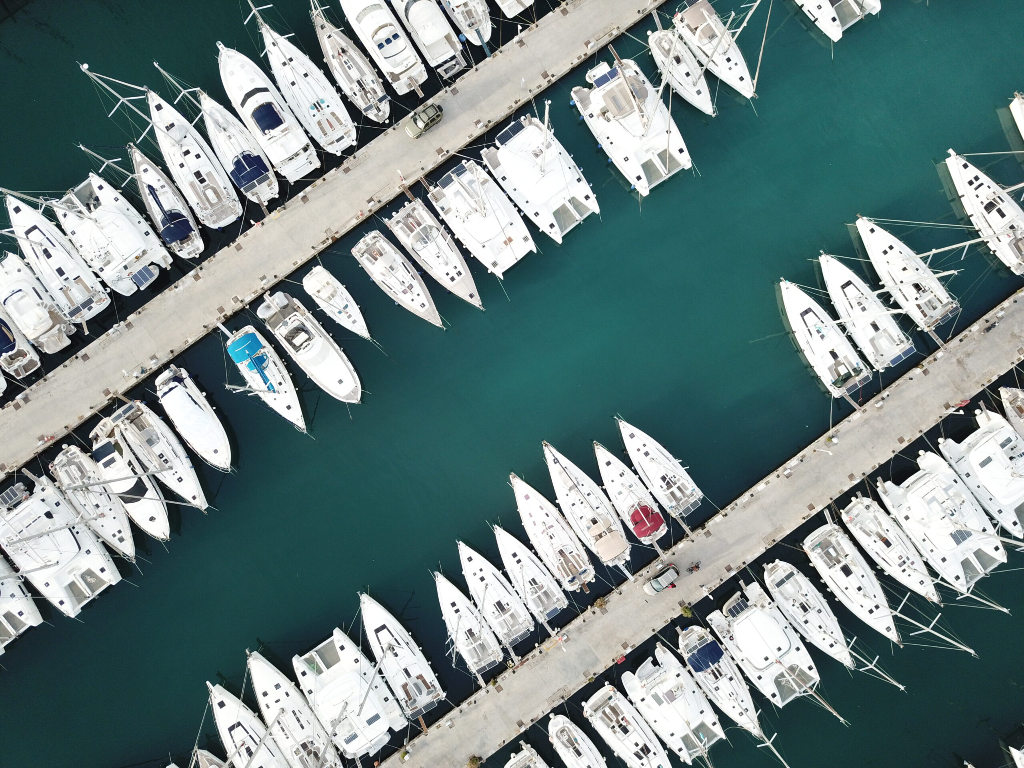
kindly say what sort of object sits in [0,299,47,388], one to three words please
boat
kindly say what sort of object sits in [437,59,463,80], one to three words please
boat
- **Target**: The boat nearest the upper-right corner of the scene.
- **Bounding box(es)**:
[993,90,1024,140]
